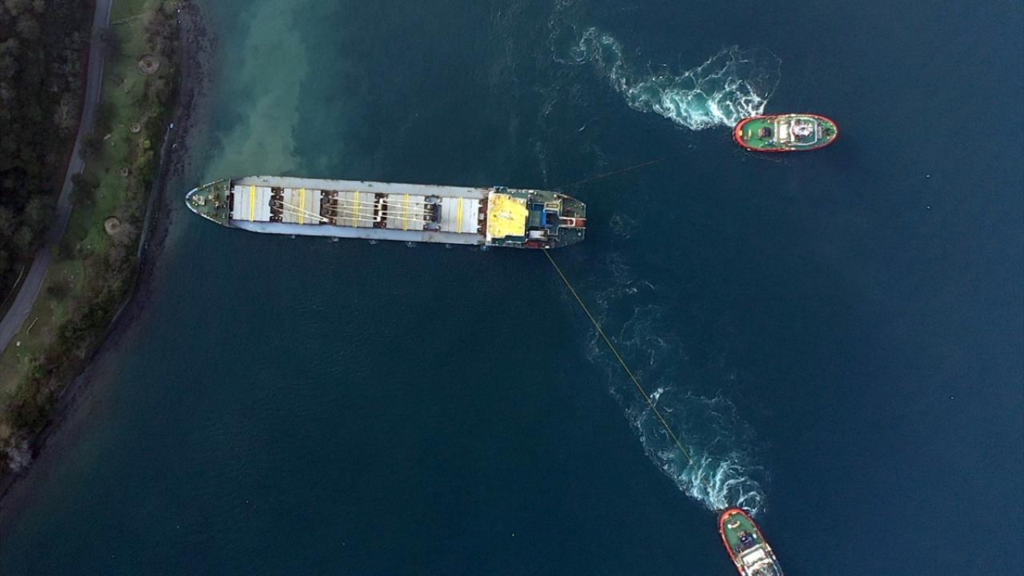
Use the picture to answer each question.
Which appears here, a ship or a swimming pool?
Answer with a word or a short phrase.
ship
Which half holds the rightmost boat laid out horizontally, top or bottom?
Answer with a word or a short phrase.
top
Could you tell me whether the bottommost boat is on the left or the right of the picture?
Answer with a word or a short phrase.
right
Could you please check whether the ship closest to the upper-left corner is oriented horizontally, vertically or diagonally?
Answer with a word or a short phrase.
horizontally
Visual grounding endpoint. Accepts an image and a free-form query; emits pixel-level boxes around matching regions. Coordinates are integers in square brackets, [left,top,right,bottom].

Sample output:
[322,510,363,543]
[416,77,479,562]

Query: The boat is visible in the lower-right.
[718,504,779,576]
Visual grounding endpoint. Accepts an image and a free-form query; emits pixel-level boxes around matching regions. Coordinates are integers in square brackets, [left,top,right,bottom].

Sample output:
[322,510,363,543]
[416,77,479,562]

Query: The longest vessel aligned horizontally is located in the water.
[186,176,586,250]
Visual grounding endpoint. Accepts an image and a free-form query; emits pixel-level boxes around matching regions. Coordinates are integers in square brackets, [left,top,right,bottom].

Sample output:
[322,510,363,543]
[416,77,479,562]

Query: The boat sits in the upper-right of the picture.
[731,113,841,153]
